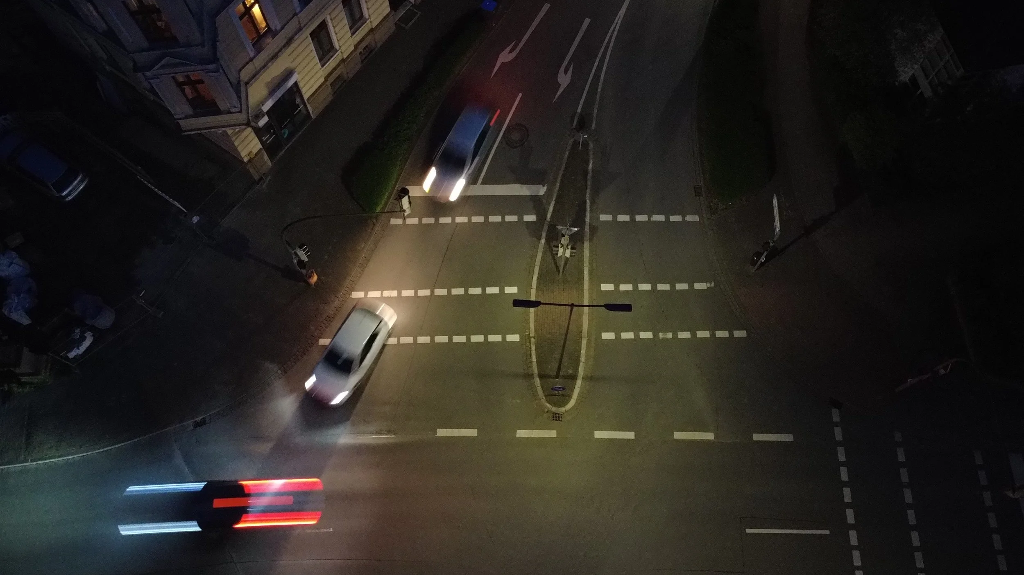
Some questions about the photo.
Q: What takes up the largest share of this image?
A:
paved ground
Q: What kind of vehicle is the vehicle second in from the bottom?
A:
car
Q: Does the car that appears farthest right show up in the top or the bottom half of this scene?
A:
top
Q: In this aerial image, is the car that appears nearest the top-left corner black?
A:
Yes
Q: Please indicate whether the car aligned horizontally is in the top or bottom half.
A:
bottom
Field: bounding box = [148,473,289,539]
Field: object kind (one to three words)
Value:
car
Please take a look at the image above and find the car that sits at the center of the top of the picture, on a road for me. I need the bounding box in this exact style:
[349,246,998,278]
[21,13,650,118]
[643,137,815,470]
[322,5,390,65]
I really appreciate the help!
[425,109,494,200]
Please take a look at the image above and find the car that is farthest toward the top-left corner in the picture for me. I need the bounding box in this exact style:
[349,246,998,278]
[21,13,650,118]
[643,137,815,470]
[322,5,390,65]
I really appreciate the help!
[0,126,93,203]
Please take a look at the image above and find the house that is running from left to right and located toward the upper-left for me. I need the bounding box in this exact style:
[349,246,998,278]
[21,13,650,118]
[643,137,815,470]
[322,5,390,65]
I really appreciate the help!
[0,0,394,180]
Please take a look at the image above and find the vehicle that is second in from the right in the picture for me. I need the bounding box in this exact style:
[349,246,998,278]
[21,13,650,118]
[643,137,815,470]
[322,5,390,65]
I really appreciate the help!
[304,296,401,408]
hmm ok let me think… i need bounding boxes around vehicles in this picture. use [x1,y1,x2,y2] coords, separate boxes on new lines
[0,126,93,203]
[148,473,289,539]
[304,296,401,408]
[425,109,494,200]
